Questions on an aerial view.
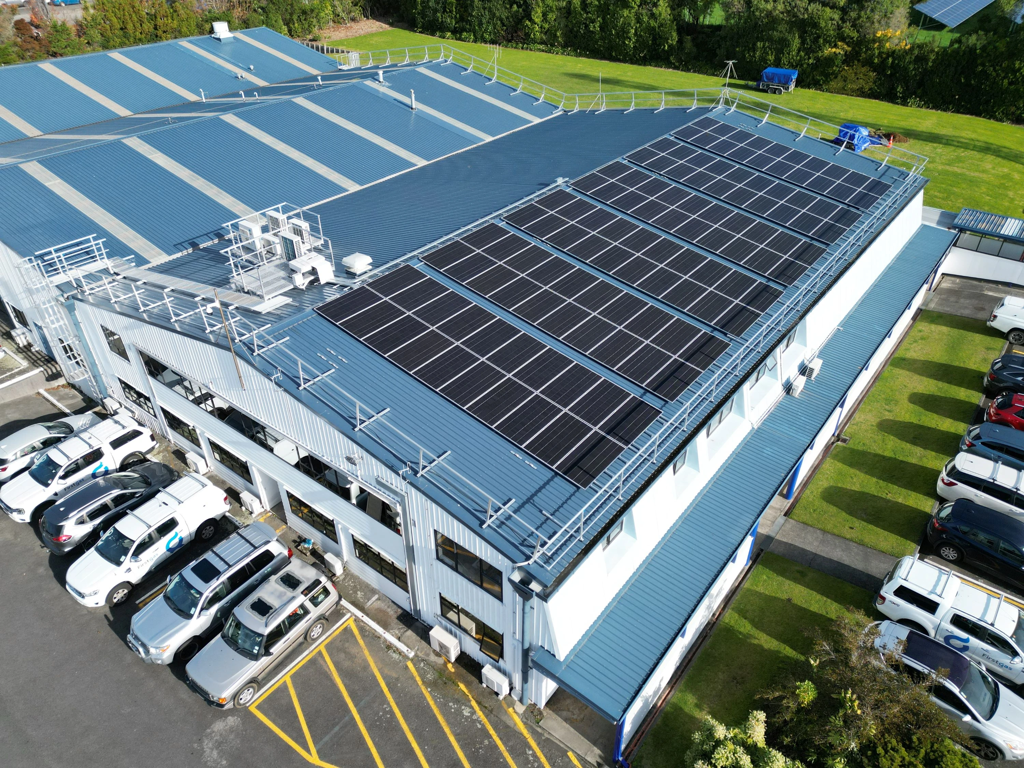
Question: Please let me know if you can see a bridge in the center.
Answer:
No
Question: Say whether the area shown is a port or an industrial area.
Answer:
industrial area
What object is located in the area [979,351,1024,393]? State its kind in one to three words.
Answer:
car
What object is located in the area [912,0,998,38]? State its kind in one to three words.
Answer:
solar array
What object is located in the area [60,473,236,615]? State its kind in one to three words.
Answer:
truck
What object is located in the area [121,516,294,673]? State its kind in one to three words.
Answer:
car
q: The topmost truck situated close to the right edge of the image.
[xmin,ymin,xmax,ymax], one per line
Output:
[986,293,1024,343]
